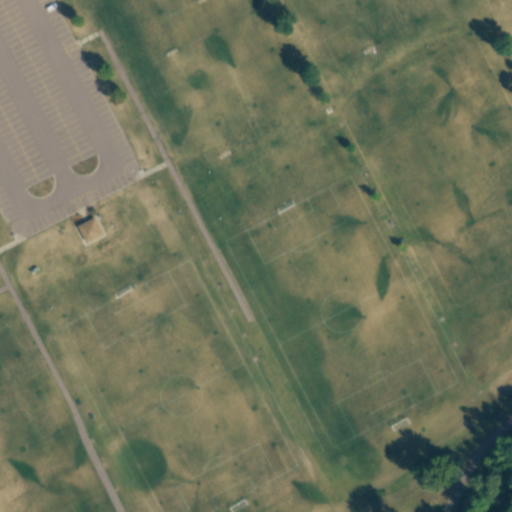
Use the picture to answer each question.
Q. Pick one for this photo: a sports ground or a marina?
sports ground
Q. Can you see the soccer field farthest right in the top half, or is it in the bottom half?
top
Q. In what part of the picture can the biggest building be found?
left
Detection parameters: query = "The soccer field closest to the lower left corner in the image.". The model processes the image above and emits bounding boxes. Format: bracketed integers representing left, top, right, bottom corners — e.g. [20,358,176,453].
[64,260,298,512]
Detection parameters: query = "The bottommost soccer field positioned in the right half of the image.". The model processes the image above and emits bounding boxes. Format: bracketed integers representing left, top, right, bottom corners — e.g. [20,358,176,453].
[226,174,460,446]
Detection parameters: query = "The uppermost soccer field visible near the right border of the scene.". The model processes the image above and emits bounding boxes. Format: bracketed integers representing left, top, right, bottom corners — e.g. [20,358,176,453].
[346,36,512,306]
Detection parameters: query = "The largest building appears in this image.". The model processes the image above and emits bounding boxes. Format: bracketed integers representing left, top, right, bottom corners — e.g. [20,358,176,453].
[78,218,106,245]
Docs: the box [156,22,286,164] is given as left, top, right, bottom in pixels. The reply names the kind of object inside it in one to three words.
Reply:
soccer field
